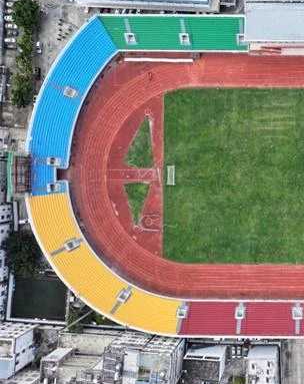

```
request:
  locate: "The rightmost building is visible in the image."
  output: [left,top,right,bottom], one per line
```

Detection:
[246,344,280,384]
